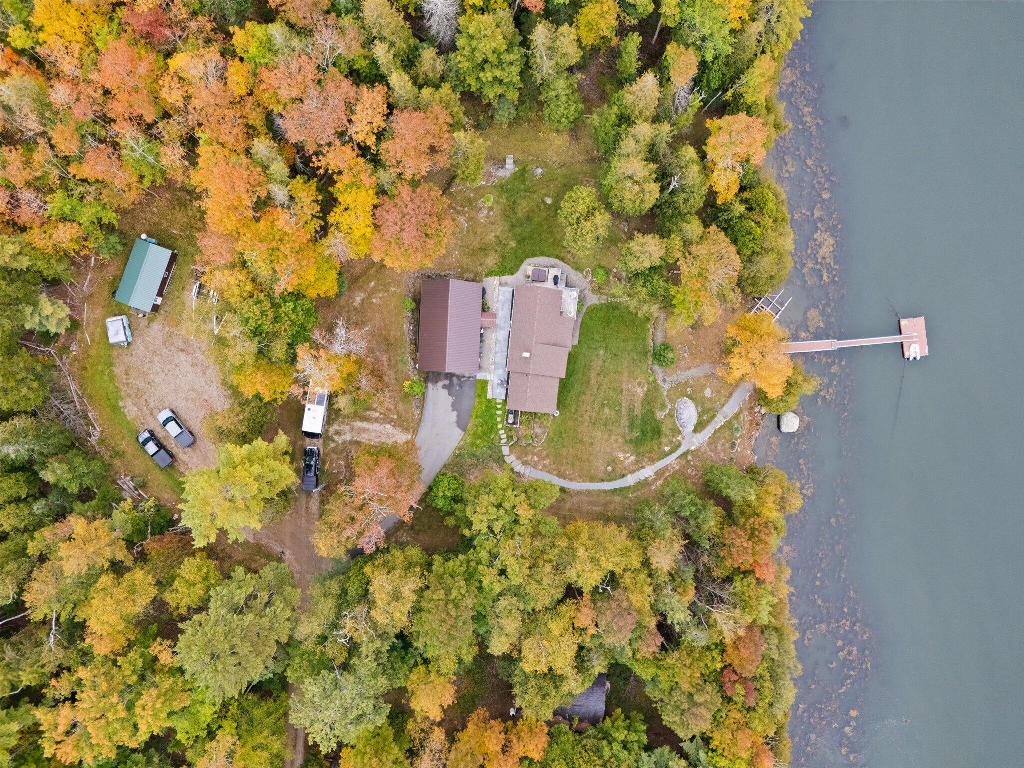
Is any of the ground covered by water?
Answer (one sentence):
Yes, water shows up in the scene.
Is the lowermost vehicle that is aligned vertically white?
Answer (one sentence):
No, the lowermost vehicle that is aligned vertically is actually black.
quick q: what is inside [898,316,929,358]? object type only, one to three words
pier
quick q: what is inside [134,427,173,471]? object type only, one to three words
truck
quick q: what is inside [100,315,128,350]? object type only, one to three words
camper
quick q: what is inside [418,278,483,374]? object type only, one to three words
building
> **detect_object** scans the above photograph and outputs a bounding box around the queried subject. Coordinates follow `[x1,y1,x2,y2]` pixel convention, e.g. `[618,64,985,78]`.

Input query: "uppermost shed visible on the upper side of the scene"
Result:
[115,239,179,313]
